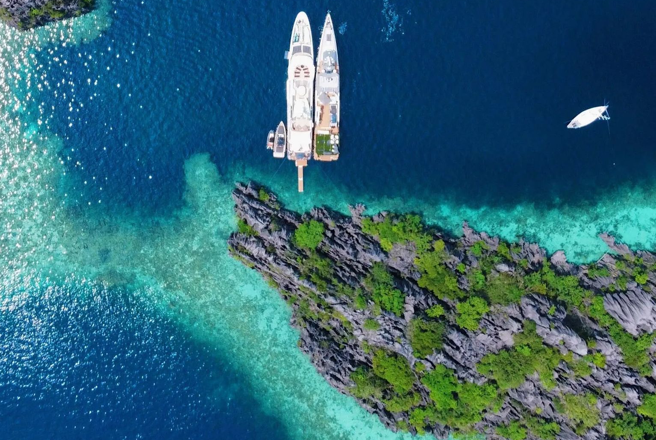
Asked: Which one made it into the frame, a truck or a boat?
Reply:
boat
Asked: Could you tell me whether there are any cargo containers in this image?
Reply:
No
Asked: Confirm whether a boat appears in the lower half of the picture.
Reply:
No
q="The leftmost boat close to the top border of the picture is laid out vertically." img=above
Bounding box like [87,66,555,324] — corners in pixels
[284,10,315,161]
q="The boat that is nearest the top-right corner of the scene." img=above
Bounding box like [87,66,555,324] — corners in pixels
[570,102,611,129]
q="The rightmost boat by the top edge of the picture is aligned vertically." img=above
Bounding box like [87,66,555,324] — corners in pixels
[314,10,340,161]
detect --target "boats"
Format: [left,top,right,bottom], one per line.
[314,10,340,161]
[570,102,611,129]
[284,10,315,161]
[273,122,285,158]
[266,130,274,149]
